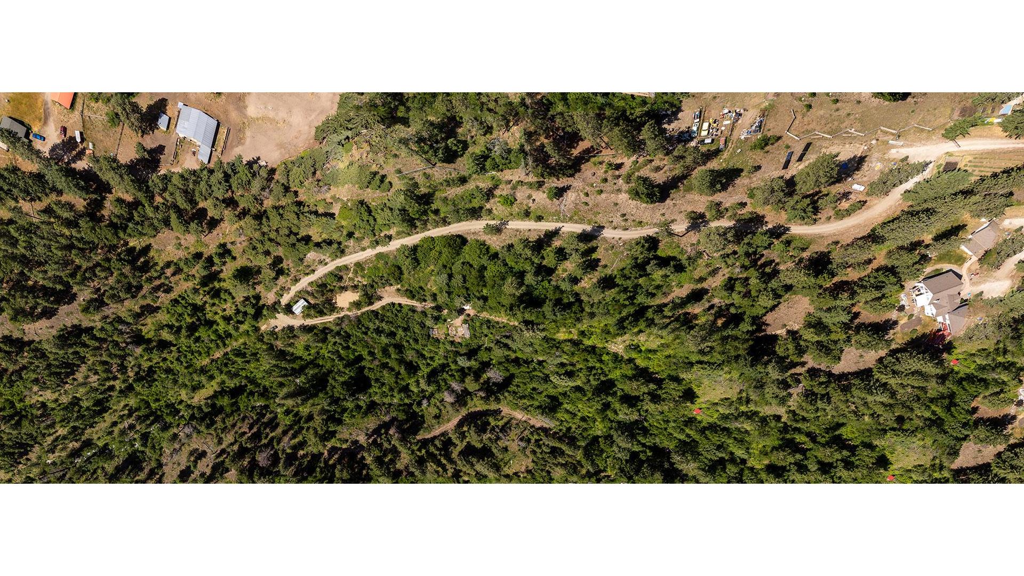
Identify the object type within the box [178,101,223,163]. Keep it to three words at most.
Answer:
barn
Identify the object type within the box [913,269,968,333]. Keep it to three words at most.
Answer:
house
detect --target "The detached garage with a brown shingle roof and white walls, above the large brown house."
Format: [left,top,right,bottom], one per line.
[959,219,999,259]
